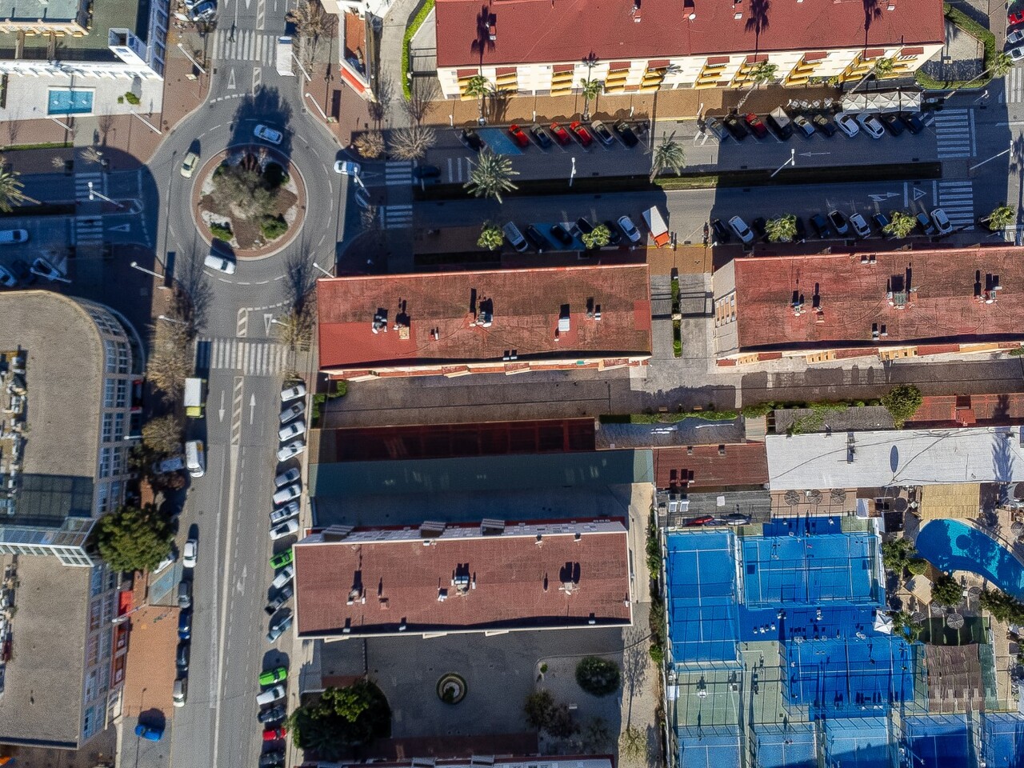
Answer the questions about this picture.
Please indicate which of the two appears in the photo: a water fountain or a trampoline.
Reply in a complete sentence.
Visible in the photo is a water fountain.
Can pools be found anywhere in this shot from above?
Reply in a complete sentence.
Yes, the picture does show a pool.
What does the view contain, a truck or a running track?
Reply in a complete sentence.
I can see a truck in this picture.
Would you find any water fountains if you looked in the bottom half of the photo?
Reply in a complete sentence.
Yes, a water fountain is visible in the bottom half of the photo.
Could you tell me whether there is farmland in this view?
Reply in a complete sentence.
No, the picture contains no farmland.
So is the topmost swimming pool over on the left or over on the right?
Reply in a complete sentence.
The topmost swimming pool appears in the left half of the scene.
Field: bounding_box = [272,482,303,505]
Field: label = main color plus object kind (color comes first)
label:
white car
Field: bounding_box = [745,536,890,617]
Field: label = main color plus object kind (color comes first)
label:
blue sports court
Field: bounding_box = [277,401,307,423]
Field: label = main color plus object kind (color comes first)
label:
gray car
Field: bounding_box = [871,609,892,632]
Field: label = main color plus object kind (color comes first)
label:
white umbrella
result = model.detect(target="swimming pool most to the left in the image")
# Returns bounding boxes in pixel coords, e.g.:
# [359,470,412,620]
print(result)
[48,89,91,114]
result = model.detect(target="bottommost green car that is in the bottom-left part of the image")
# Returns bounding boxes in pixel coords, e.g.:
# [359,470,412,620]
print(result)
[259,667,287,685]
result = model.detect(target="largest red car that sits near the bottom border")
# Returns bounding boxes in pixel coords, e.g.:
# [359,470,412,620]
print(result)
[262,724,289,740]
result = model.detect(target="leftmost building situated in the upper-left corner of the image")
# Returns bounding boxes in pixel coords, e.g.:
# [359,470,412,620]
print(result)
[0,0,166,85]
